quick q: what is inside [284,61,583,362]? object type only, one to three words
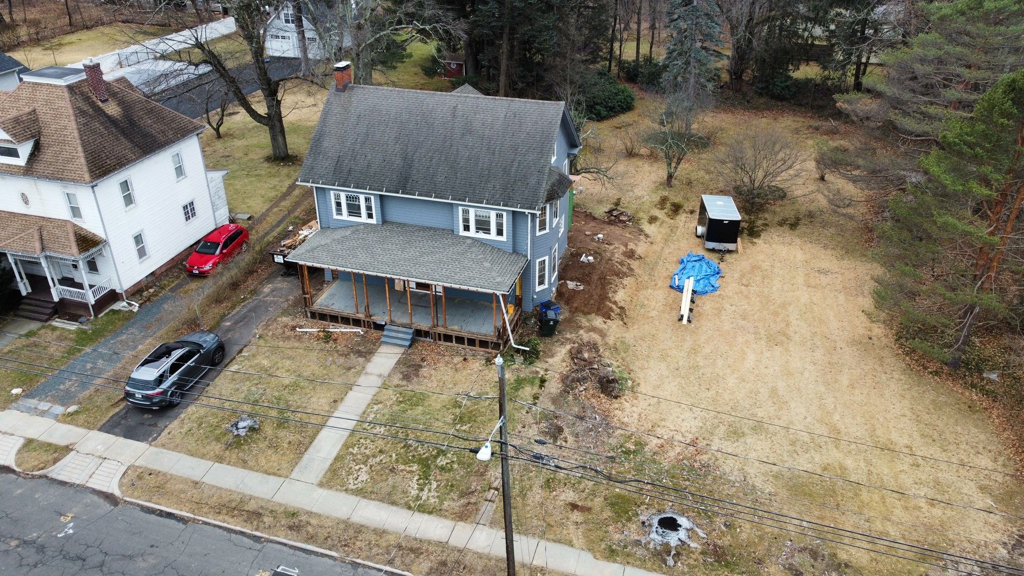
house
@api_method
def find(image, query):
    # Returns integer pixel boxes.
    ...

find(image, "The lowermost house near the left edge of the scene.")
[0,55,237,321]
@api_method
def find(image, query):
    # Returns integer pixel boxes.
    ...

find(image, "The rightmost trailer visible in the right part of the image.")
[699,196,743,264]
